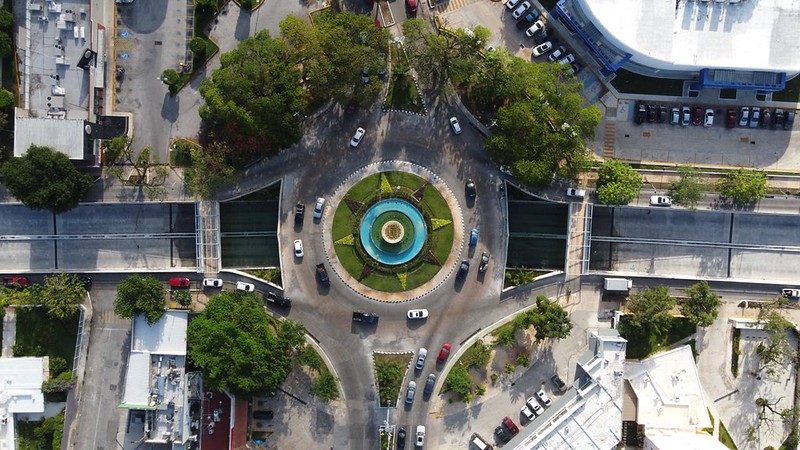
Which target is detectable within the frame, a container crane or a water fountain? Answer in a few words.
water fountain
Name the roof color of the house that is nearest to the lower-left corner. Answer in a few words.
white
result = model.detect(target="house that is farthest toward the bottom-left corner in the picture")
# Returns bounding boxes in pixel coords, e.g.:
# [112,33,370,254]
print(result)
[0,354,69,450]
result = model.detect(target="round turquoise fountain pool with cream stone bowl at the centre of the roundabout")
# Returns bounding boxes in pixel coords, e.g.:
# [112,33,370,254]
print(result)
[359,198,427,266]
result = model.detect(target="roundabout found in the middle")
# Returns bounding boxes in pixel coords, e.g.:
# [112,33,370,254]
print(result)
[321,159,465,304]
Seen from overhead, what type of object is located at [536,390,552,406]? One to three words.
car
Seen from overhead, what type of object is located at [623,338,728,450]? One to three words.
building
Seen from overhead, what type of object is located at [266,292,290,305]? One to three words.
vehicle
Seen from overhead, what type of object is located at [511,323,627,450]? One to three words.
building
